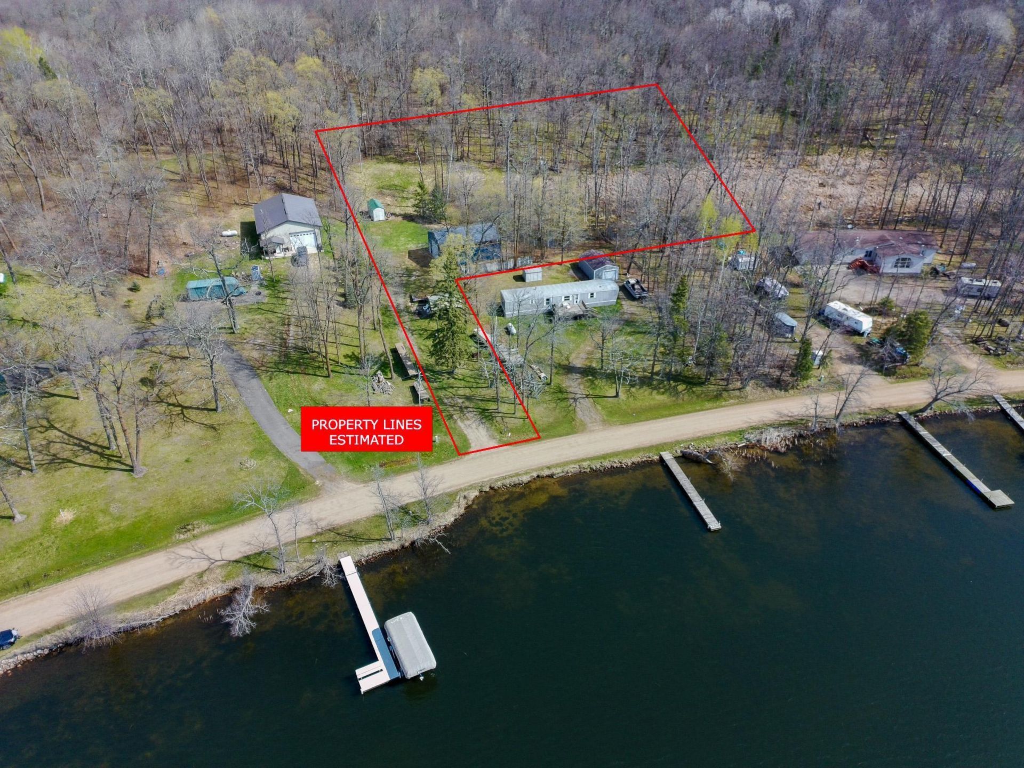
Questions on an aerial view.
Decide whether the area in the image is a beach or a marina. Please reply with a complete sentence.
It's a marina.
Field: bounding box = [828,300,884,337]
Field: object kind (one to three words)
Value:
trailer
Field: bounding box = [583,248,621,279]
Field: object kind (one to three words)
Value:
building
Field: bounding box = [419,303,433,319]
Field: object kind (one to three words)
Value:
vehicle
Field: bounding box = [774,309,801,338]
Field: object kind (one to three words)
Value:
shed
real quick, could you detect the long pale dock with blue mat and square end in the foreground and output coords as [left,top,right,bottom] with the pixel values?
[341,558,399,695]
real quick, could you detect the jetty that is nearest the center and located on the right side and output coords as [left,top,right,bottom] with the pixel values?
[660,452,720,530]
